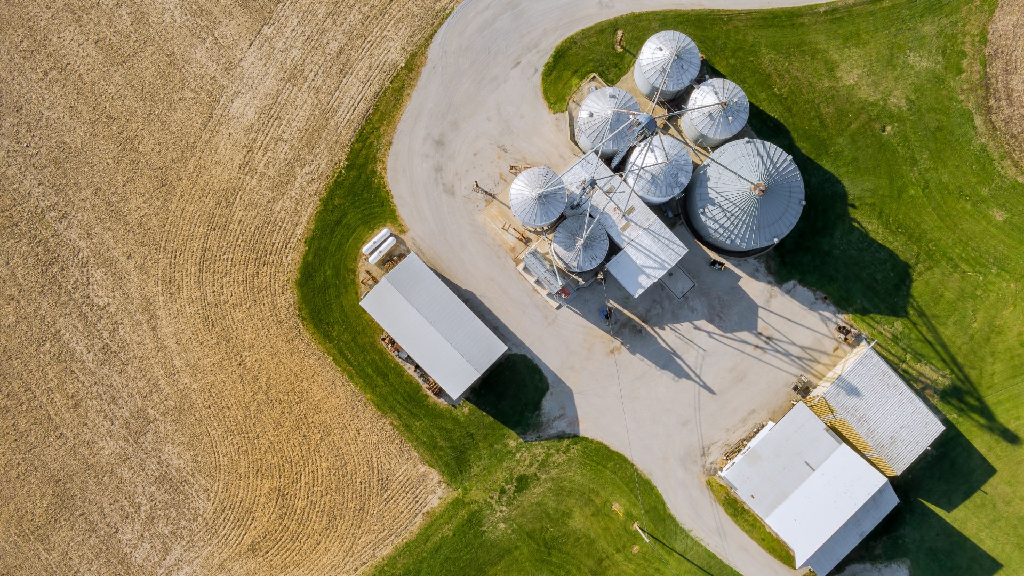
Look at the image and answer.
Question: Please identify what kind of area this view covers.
industrial area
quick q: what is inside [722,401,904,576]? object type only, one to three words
barn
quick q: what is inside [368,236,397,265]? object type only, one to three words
storage tank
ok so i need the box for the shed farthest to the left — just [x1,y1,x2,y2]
[359,251,508,401]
